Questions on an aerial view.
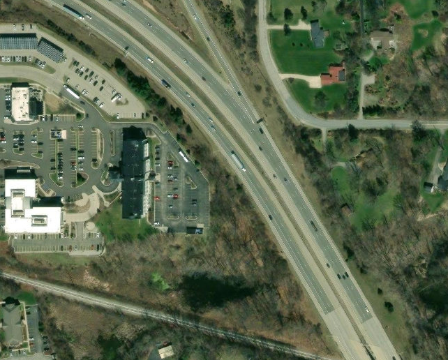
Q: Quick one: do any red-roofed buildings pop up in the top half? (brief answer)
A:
Yes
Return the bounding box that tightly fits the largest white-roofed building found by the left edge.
[4,179,64,232]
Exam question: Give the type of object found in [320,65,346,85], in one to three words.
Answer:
house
